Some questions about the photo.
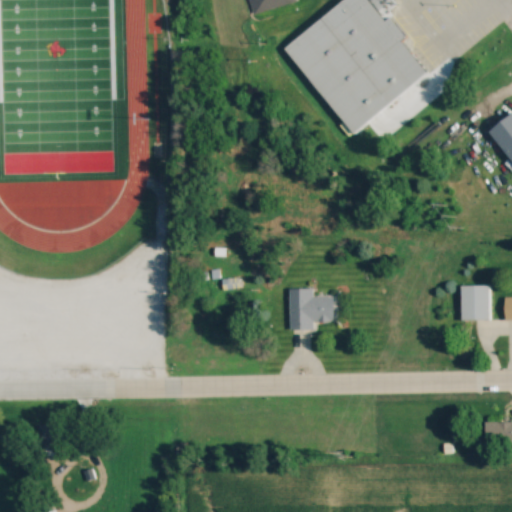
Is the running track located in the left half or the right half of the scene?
left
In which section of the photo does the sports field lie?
top left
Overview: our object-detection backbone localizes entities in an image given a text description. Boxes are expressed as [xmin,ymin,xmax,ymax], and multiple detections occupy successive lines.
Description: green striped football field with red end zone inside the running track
[0,0,128,183]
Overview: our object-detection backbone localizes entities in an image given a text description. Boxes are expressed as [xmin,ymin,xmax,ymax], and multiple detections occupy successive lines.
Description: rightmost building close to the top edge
[284,0,430,136]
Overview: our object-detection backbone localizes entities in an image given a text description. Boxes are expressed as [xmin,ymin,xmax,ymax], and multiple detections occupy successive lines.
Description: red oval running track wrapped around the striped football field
[0,0,150,252]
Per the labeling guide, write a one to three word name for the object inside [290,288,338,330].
house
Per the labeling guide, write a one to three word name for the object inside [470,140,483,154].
vehicle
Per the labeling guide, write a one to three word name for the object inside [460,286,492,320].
house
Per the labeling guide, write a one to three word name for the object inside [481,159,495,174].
camper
